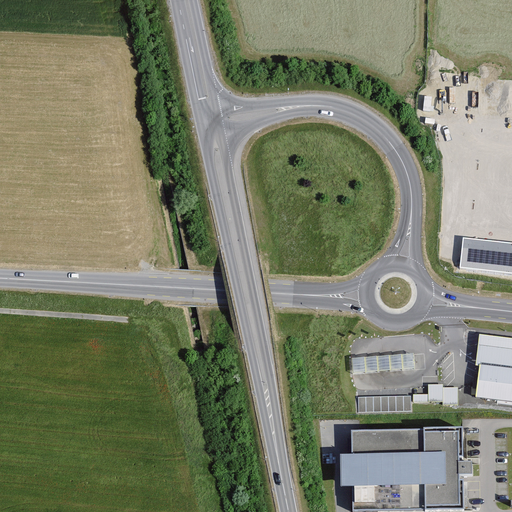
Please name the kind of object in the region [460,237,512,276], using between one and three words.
building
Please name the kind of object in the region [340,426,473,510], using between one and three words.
building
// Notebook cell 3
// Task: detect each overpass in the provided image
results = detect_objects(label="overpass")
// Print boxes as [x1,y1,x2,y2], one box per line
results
[214,239,272,343]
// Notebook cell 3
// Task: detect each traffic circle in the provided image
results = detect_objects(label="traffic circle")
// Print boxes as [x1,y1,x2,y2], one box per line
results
[358,254,434,330]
